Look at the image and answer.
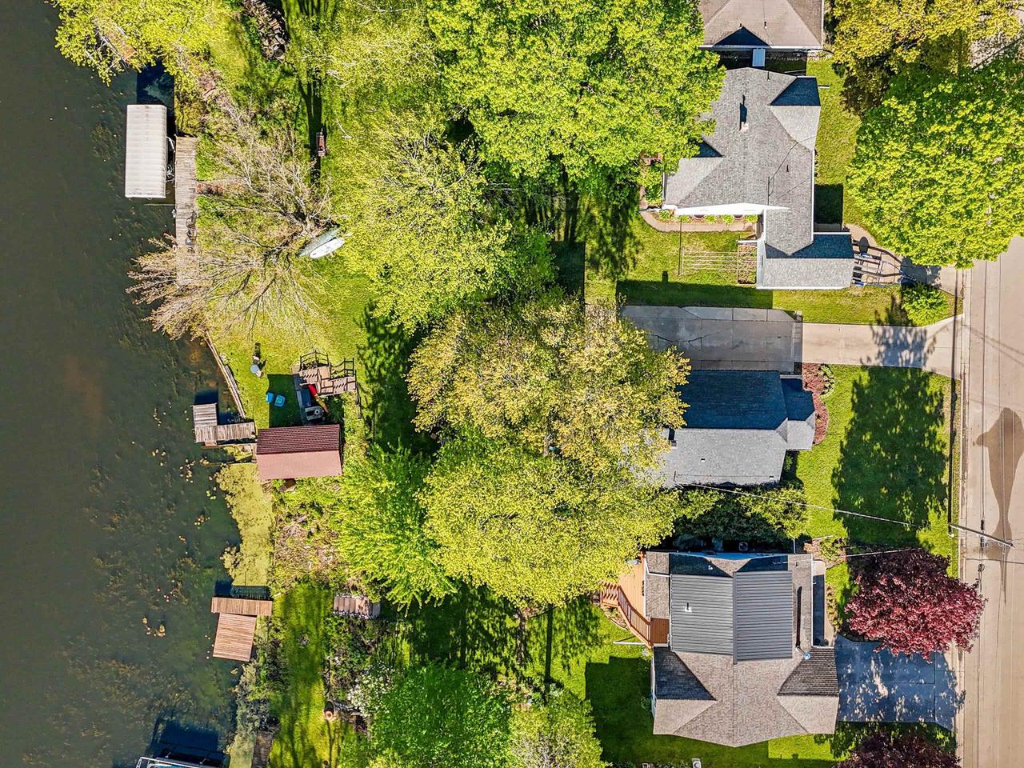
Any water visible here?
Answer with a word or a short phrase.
Yes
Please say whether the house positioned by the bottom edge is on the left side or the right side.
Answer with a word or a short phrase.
right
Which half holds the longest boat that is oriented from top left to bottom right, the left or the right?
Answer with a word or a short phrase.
left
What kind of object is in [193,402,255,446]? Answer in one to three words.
pier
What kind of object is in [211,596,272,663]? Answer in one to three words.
pier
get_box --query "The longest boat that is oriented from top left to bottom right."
[308,384,328,414]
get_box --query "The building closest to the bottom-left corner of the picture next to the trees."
[257,425,342,479]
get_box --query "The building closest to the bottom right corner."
[614,551,841,747]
